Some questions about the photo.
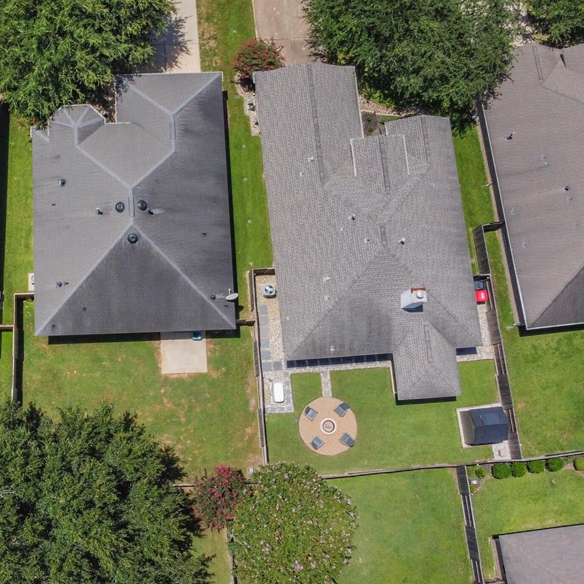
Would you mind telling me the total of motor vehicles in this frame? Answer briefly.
0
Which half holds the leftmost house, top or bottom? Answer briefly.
top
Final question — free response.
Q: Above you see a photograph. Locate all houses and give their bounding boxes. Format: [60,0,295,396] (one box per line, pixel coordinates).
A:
[253,63,483,402]
[470,43,584,331]
[31,71,237,337]
[485,523,584,584]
